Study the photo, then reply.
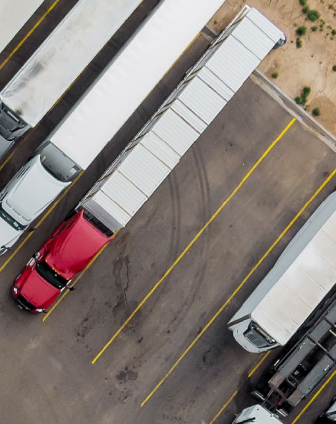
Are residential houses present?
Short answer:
No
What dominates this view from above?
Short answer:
paved ground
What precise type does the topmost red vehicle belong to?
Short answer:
truck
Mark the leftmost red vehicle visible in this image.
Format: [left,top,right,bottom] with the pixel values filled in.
[11,199,118,316]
